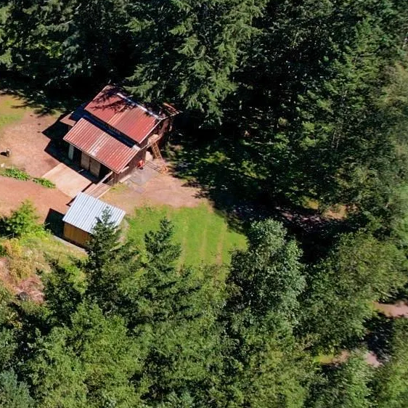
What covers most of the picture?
trees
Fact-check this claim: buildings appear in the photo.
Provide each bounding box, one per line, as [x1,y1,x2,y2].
[62,82,178,190]
[62,192,125,252]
